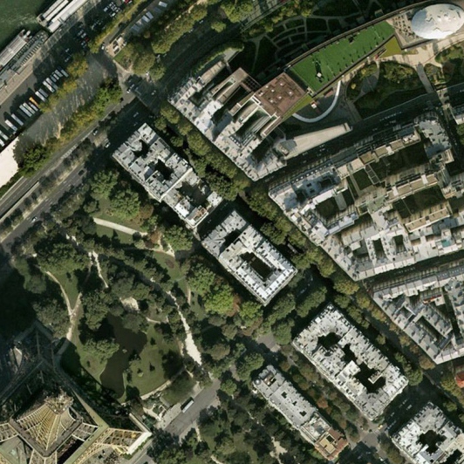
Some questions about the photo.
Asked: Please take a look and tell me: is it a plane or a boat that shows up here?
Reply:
boat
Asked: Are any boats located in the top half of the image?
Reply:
Yes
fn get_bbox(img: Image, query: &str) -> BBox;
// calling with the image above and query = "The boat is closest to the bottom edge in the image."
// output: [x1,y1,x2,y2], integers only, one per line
[0,29,31,68]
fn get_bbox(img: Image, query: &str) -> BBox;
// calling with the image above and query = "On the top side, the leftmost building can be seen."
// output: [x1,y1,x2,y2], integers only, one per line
[111,123,192,203]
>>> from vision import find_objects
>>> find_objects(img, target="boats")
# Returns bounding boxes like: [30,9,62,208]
[0,29,31,68]
[39,0,70,26]
[49,0,89,33]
